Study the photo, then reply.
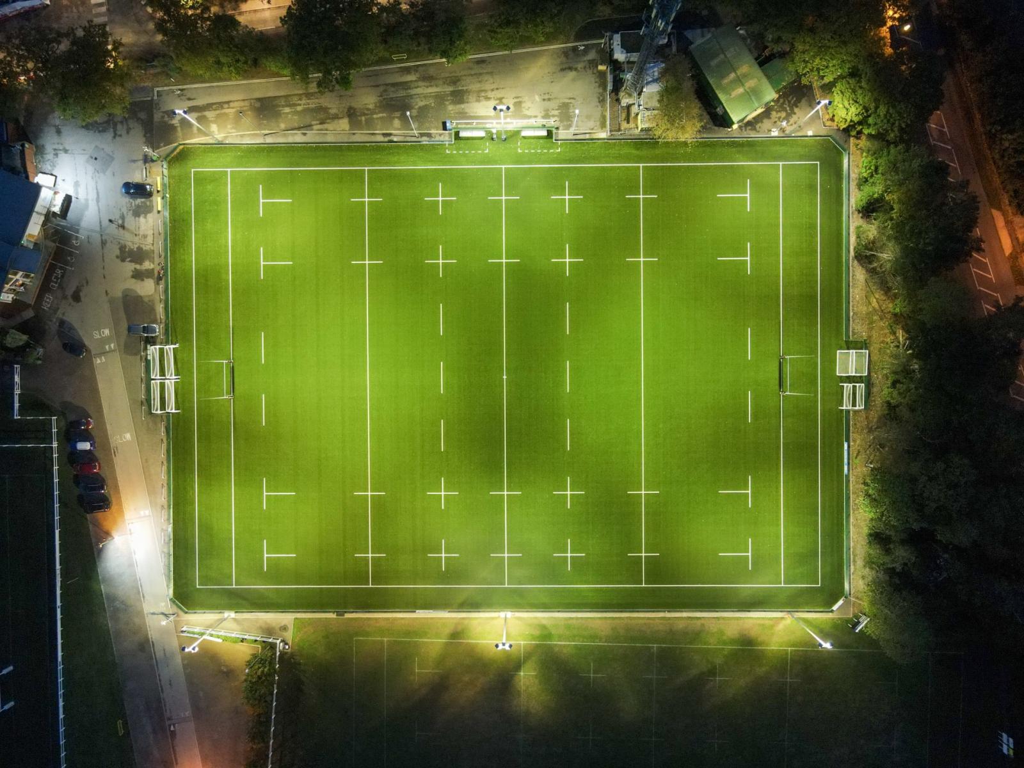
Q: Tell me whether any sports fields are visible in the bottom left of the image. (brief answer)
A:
Yes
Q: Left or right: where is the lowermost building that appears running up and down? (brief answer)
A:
left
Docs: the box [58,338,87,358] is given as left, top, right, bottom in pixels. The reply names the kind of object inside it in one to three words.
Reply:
car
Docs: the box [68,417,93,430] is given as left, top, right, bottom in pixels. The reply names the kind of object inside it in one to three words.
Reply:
vehicle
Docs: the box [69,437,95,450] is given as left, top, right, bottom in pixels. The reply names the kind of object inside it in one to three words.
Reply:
vehicle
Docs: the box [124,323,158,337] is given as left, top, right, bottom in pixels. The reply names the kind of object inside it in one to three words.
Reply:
car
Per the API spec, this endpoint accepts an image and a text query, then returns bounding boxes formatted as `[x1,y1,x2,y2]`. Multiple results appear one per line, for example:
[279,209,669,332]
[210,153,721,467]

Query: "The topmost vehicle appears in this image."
[120,181,152,196]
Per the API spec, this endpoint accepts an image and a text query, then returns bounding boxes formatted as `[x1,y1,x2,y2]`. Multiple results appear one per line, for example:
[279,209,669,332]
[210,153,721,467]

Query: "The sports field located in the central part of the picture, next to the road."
[153,131,864,612]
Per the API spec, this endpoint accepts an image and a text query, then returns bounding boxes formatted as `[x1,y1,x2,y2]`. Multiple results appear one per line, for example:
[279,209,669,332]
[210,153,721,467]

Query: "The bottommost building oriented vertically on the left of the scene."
[0,169,64,311]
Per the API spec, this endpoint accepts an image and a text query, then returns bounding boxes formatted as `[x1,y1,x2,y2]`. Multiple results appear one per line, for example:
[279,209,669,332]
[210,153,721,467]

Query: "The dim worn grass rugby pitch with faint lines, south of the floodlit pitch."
[272,618,1024,768]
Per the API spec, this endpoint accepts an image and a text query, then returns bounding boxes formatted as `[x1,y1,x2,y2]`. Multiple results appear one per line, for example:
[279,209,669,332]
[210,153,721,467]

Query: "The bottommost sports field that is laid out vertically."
[0,446,63,768]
